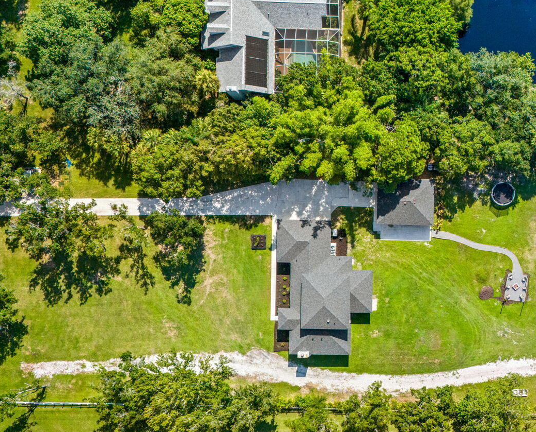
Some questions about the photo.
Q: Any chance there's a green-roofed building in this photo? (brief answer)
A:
No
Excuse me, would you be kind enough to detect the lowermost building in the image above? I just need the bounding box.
[276,219,373,359]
